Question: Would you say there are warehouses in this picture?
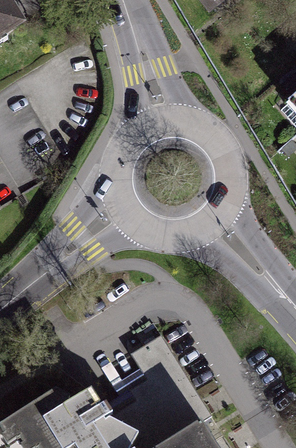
No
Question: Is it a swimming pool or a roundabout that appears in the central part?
roundabout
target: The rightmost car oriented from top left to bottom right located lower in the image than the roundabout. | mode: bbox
[115,352,132,372]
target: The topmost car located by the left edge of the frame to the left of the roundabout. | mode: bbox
[9,98,30,112]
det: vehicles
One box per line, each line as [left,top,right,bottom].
[255,358,277,374]
[166,326,189,342]
[68,112,89,128]
[174,336,194,353]
[76,88,98,98]
[27,131,48,146]
[262,368,283,384]
[84,302,106,319]
[9,98,30,112]
[96,179,114,200]
[72,60,94,71]
[53,134,71,156]
[247,350,269,366]
[93,350,120,385]
[192,372,214,388]
[275,394,296,410]
[107,283,130,301]
[62,122,82,141]
[112,3,124,25]
[210,186,228,207]
[73,100,94,113]
[179,349,200,366]
[115,352,132,372]
[187,360,208,376]
[32,141,51,156]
